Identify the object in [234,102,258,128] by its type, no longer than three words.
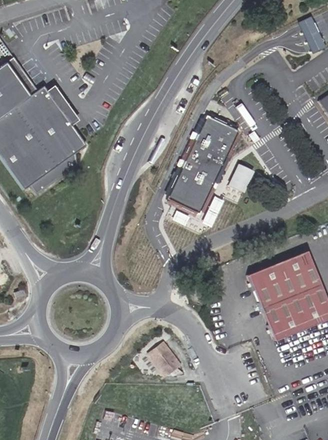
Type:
truck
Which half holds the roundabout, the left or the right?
left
